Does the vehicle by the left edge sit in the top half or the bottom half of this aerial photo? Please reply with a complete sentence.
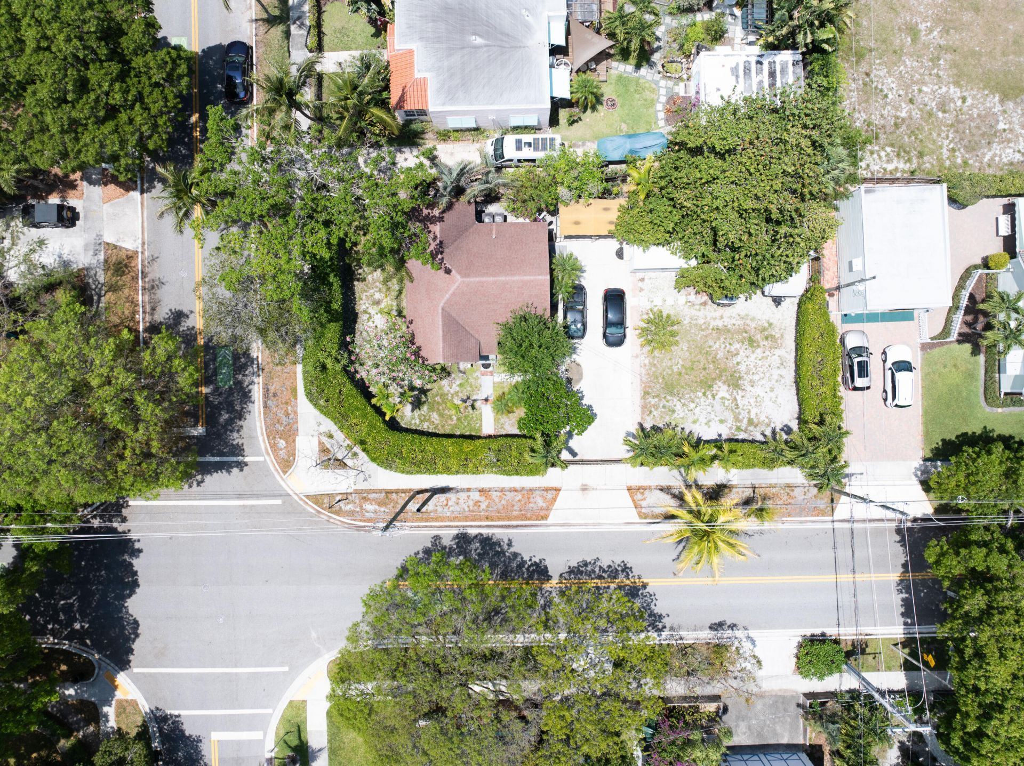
The top half of the photo is where the vehicle by the left edge is.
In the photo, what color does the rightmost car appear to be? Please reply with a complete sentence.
The rightmost car is white.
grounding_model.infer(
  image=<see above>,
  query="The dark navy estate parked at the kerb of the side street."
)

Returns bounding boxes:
[222,42,254,104]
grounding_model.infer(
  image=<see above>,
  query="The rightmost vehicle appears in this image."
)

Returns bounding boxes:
[880,345,915,407]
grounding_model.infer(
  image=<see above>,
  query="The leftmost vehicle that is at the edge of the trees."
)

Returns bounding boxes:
[24,203,76,229]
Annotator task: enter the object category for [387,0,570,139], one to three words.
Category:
house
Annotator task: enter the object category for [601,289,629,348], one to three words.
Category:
car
